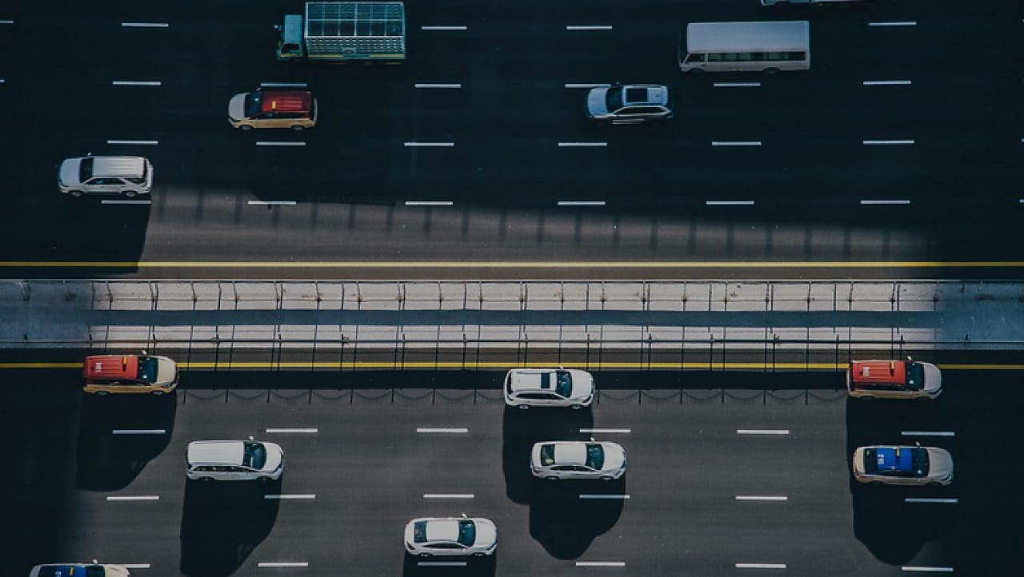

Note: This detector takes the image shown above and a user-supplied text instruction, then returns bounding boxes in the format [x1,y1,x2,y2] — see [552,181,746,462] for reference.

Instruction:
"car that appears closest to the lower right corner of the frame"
[852,441,952,487]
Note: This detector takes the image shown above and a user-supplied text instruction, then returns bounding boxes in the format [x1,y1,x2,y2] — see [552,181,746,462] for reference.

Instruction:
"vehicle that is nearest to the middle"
[504,364,595,410]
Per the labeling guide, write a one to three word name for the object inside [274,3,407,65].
truck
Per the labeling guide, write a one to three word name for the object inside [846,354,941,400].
car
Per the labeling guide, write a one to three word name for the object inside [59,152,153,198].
car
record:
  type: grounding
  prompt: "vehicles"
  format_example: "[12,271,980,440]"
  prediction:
[586,80,673,124]
[403,513,498,559]
[679,21,811,76]
[32,559,130,577]
[530,436,627,481]
[852,441,952,487]
[274,3,407,65]
[228,86,319,130]
[187,437,285,483]
[59,152,153,198]
[846,354,941,400]
[504,364,595,410]
[84,350,179,396]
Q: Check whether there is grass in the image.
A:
No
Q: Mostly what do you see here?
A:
paved ground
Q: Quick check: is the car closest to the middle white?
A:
Yes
